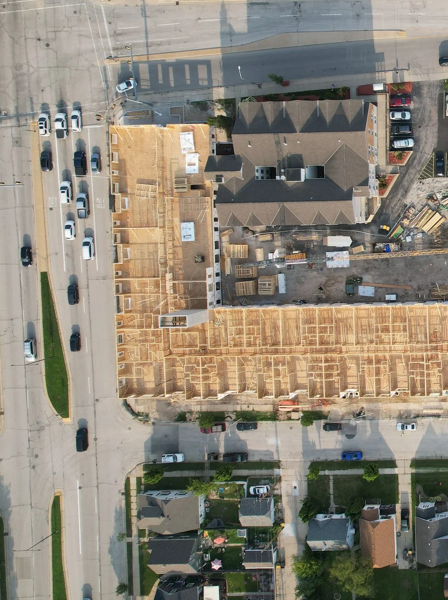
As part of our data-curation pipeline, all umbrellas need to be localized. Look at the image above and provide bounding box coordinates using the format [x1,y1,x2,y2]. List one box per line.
[214,535,225,547]
[211,558,223,570]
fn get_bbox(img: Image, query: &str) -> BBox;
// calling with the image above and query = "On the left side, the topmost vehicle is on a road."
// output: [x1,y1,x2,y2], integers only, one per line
[116,78,139,94]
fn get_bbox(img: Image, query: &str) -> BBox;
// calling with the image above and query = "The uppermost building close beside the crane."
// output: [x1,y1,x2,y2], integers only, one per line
[205,101,382,226]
